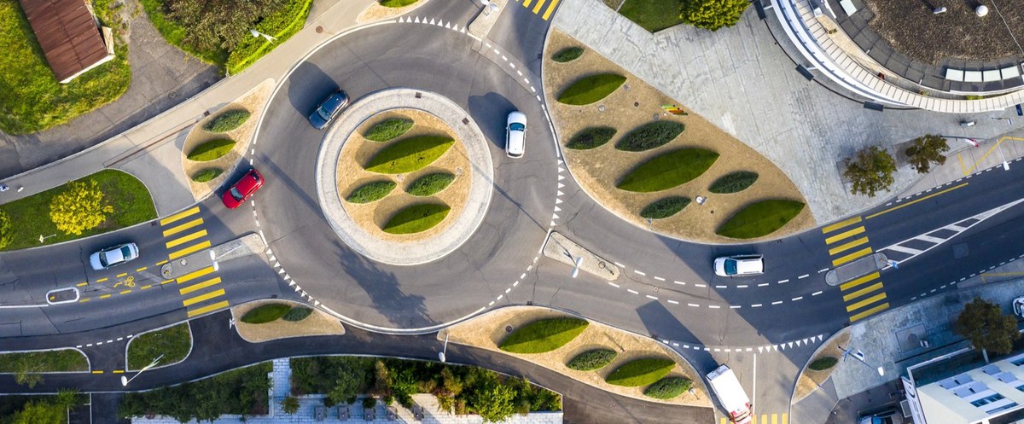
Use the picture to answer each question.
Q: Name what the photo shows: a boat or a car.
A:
car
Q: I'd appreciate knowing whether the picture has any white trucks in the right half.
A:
Yes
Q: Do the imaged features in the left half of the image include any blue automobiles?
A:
Yes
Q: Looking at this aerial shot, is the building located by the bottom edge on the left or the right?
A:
right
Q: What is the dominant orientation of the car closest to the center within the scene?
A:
up and down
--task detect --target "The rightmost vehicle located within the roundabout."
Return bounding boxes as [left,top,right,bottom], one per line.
[505,112,529,158]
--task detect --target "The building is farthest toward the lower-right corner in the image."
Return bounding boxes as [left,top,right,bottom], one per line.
[923,355,1024,424]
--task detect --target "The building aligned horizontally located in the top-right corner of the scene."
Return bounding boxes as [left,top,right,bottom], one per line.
[752,0,1024,121]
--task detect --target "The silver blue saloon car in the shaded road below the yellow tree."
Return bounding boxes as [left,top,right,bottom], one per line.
[90,240,143,271]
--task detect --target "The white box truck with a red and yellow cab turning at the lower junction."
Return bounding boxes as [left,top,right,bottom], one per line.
[701,357,753,422]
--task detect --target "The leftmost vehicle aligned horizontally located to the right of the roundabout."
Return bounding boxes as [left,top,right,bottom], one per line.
[711,253,766,278]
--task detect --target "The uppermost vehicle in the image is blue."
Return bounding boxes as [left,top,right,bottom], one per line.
[309,87,353,130]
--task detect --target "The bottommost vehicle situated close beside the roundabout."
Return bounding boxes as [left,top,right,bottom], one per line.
[221,167,267,209]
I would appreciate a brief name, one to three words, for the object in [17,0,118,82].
shed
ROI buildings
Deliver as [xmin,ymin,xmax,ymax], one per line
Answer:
[17,0,118,82]
[923,355,1024,424]
[752,0,1024,121]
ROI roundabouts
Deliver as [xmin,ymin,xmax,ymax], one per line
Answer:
[250,18,564,336]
